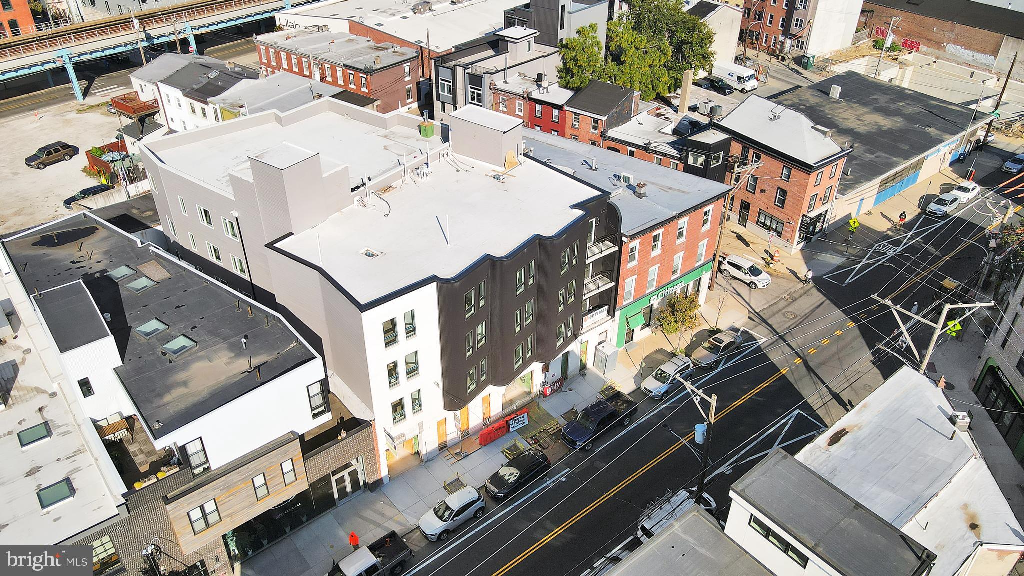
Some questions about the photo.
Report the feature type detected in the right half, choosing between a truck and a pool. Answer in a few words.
truck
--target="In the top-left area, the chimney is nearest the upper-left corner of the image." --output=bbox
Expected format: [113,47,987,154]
[223,54,237,69]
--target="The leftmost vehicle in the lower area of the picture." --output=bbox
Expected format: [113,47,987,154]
[314,525,413,576]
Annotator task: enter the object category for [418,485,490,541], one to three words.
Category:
car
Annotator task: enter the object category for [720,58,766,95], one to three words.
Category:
truck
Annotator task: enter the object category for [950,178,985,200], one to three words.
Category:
car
